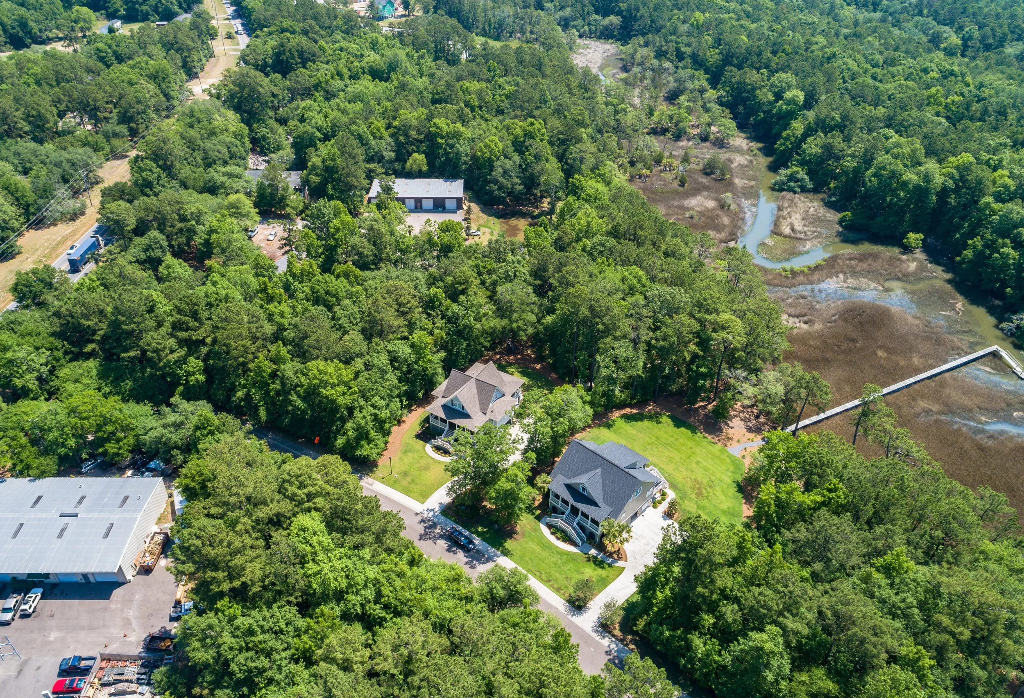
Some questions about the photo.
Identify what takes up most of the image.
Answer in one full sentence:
What you mostly see from above here is trees.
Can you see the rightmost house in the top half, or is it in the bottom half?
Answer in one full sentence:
The rightmost house is in the bottom half of the image.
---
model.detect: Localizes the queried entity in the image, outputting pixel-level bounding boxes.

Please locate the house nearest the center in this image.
[426,360,533,453]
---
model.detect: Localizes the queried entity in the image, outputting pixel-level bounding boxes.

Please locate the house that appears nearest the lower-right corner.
[547,440,669,546]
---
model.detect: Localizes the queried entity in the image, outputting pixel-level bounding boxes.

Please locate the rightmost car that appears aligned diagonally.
[447,522,477,549]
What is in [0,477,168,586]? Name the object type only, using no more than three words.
building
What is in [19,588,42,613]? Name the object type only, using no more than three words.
car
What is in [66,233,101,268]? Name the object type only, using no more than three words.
trailer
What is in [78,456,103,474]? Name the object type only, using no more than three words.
car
